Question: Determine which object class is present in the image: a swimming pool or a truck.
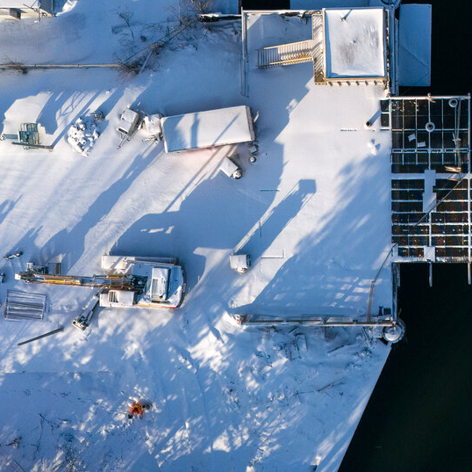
truck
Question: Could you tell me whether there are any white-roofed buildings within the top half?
Yes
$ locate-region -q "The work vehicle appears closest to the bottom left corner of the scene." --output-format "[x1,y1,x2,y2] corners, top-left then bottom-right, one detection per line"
[13,255,192,310]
